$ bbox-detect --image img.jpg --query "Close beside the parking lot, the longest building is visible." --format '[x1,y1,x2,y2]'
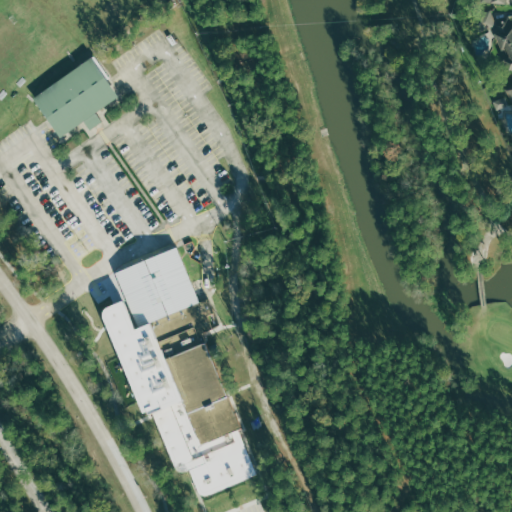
[105,248,257,494]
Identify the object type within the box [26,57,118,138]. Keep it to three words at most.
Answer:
building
